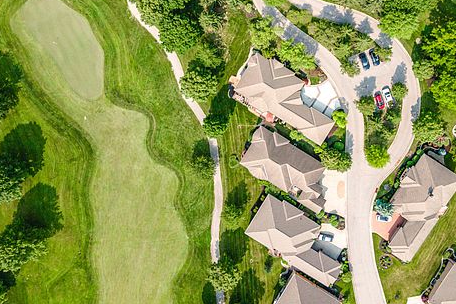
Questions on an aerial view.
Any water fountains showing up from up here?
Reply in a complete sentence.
No, there's no water fountain here.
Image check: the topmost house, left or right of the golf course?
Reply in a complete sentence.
The topmost house is to the right of the golf course.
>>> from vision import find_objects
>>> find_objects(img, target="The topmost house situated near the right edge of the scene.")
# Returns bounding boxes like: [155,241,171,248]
[389,153,456,260]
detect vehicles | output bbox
[358,52,370,70]
[369,47,382,66]
[382,87,394,105]
[374,92,385,109]
[318,232,334,242]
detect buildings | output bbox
[234,52,335,145]
[237,125,326,216]
[273,270,342,304]
[430,260,456,304]
[245,194,343,285]
[389,153,456,260]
